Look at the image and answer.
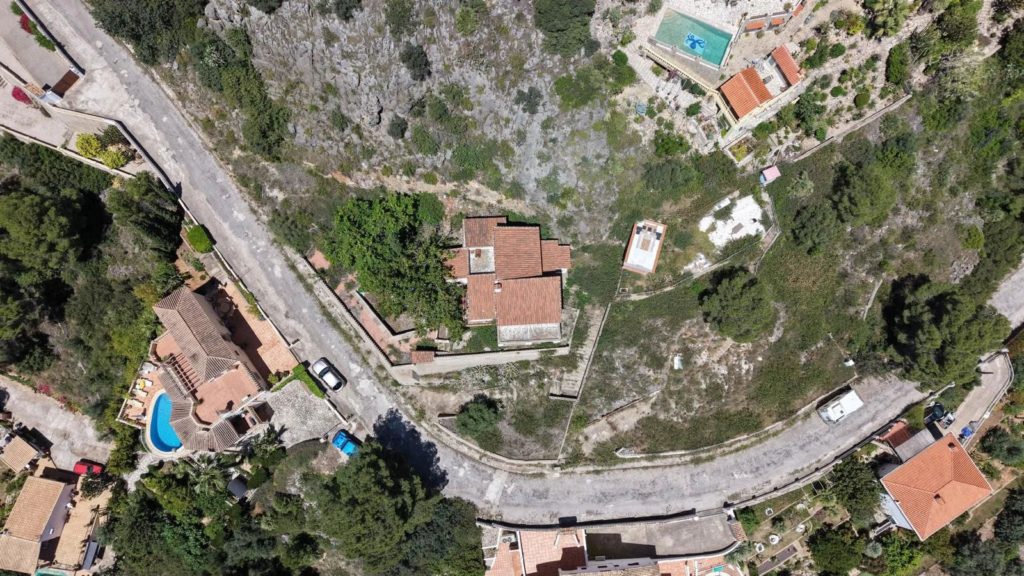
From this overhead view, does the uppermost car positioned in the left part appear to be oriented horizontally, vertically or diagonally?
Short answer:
diagonally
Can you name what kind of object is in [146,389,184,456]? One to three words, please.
swimming pool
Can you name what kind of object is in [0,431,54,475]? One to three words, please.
house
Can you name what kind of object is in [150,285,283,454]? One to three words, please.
house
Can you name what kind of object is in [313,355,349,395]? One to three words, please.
car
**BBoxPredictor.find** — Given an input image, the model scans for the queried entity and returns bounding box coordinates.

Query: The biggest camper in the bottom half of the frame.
[807,384,867,424]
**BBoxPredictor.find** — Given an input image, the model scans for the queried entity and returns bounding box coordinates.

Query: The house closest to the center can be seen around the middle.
[447,215,573,345]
